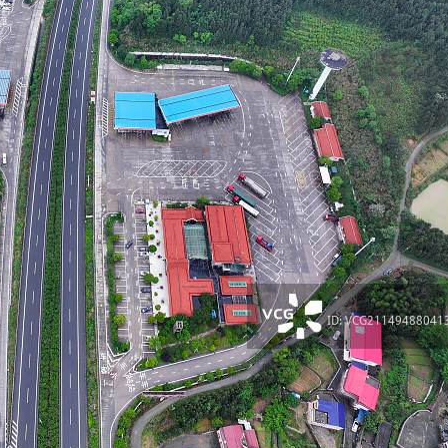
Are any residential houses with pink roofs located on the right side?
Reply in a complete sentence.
Yes, looking on the right side, one can make out a residential house with a pink roof.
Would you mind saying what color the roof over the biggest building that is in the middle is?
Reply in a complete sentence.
The roof over the biggest building that is in the middle appears red.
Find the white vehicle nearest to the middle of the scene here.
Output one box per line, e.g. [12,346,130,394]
[231,195,261,218]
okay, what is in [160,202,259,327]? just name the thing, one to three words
building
